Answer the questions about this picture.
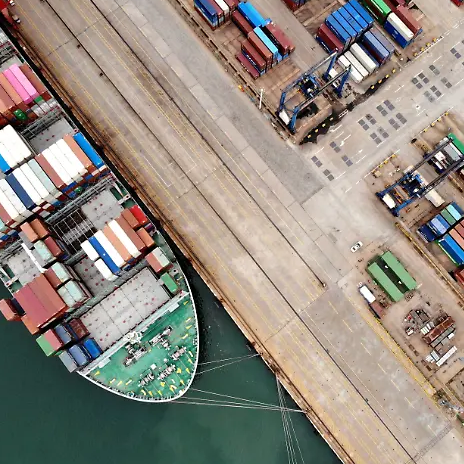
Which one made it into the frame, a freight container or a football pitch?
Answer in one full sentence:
It is a freight container that can be seen here.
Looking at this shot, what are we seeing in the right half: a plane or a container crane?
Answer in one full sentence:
You can see a container crane in the right half.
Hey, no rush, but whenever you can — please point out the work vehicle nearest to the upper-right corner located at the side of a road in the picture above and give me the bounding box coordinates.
[409,139,428,155]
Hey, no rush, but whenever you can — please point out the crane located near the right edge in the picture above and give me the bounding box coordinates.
[376,138,464,217]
